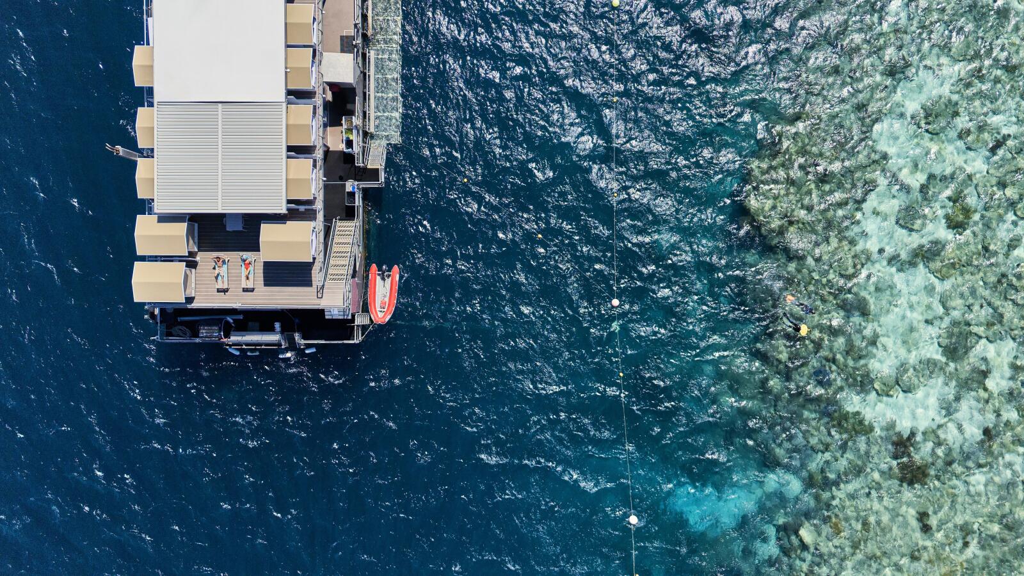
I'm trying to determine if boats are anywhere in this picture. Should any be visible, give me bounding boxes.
[368,262,400,324]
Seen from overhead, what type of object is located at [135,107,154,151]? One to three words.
tent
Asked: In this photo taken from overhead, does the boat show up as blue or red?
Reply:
red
